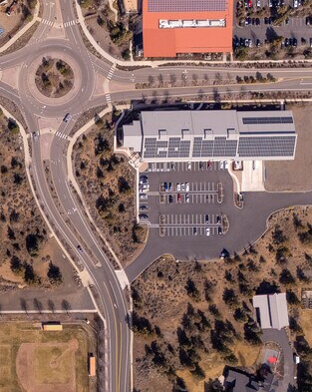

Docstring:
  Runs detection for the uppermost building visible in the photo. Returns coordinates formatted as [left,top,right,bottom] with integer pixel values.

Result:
[138,0,235,61]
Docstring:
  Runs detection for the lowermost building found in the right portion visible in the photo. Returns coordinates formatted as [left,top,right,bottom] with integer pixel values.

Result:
[224,366,278,392]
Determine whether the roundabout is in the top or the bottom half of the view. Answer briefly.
top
